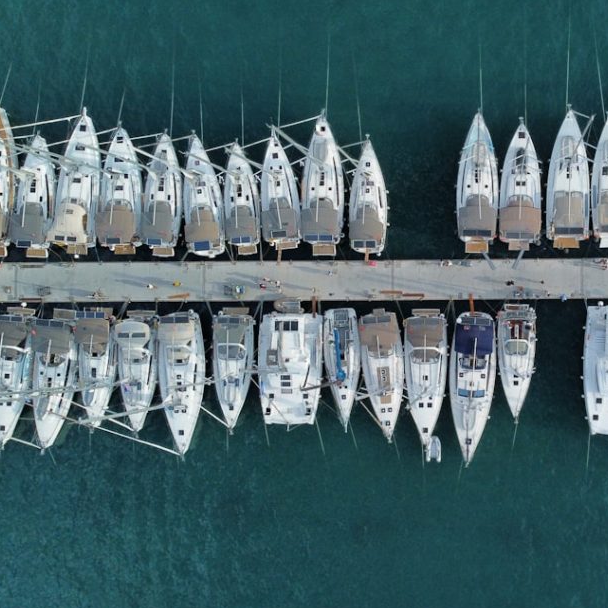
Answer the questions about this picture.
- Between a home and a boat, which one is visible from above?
boat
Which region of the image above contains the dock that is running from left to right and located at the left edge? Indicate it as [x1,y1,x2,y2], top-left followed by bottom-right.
[14,259,203,303]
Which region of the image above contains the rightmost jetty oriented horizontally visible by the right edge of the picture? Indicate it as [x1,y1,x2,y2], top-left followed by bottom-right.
[393,257,584,300]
